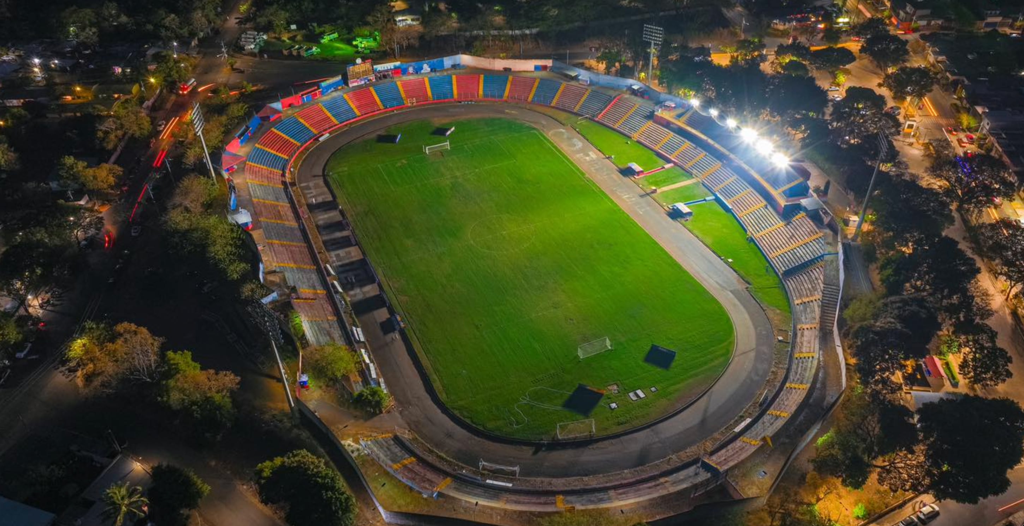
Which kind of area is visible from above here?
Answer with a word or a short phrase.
sports ground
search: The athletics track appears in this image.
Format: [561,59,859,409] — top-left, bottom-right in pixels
[296,102,774,475]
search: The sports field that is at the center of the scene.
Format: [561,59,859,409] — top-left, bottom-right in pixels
[324,114,733,440]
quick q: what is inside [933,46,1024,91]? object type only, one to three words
building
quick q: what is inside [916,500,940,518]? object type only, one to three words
car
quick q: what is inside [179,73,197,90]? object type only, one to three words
vehicle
